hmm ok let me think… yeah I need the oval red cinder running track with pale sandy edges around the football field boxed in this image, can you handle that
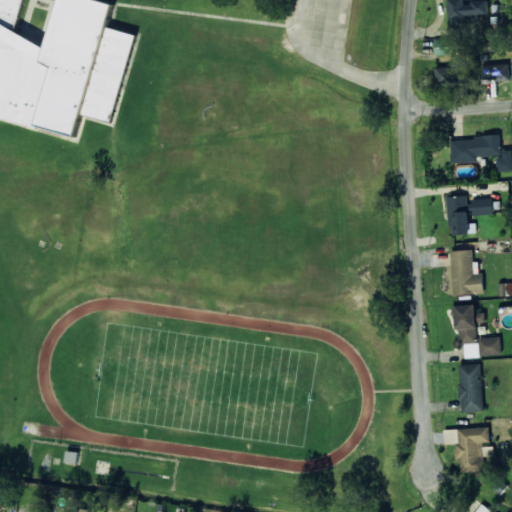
[38,297,375,473]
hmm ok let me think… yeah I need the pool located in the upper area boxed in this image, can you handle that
[454,164,479,180]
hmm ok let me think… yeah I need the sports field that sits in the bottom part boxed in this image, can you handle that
[96,322,317,447]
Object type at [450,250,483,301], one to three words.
house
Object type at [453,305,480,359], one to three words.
house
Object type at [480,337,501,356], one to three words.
building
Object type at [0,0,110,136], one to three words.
building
